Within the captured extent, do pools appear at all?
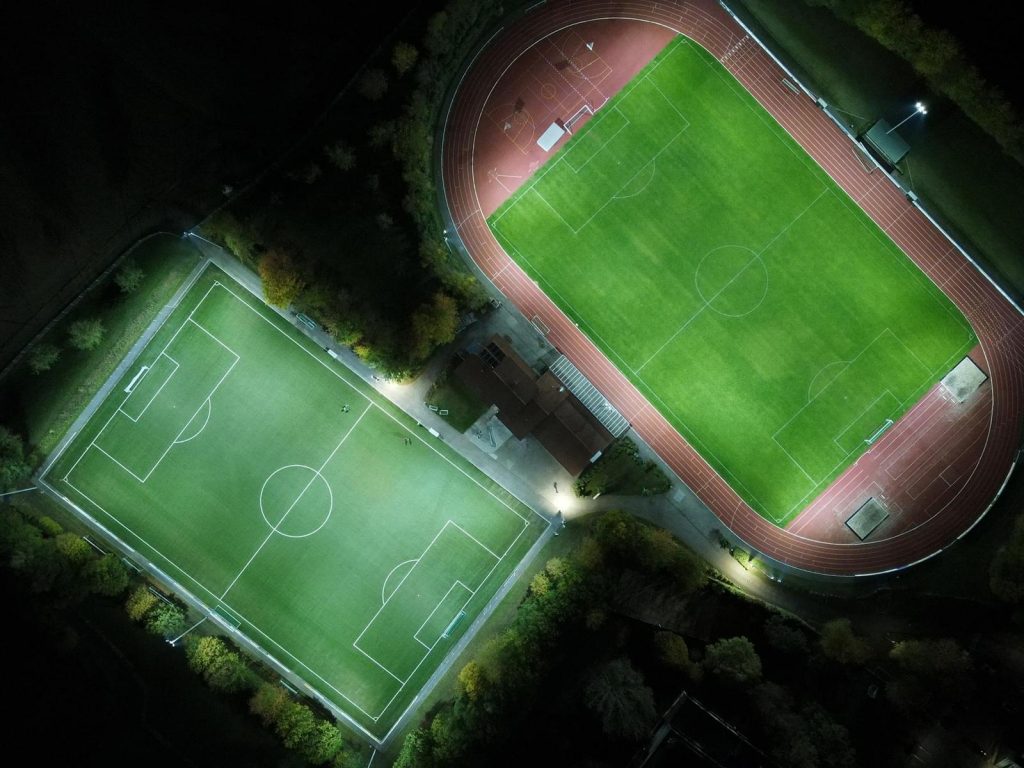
No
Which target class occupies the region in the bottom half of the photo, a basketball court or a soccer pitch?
soccer pitch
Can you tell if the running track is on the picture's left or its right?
right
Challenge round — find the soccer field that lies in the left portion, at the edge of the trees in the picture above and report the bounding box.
[43,263,550,743]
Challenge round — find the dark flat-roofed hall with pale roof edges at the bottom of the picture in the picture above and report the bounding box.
[631,685,787,768]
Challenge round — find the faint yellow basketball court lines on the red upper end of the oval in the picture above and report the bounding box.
[488,29,609,149]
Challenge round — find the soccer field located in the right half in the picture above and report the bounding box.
[486,33,979,529]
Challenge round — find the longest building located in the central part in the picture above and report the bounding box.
[453,330,614,476]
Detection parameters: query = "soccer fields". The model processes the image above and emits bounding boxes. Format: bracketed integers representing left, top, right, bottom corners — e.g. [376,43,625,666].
[486,33,979,529]
[43,263,550,743]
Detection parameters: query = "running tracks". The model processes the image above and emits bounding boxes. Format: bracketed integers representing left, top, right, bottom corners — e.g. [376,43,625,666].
[443,0,1024,575]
